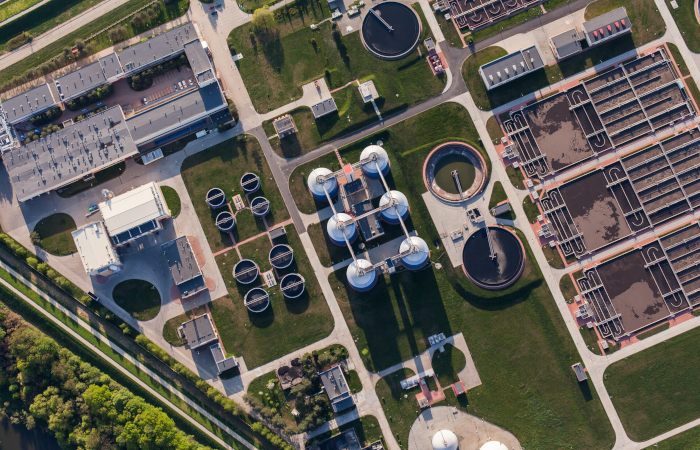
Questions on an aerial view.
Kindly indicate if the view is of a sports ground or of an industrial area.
industrial area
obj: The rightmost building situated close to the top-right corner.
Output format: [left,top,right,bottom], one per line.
[580,7,632,47]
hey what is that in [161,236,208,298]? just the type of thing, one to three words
building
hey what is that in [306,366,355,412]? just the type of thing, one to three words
building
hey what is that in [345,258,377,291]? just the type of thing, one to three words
storage tank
